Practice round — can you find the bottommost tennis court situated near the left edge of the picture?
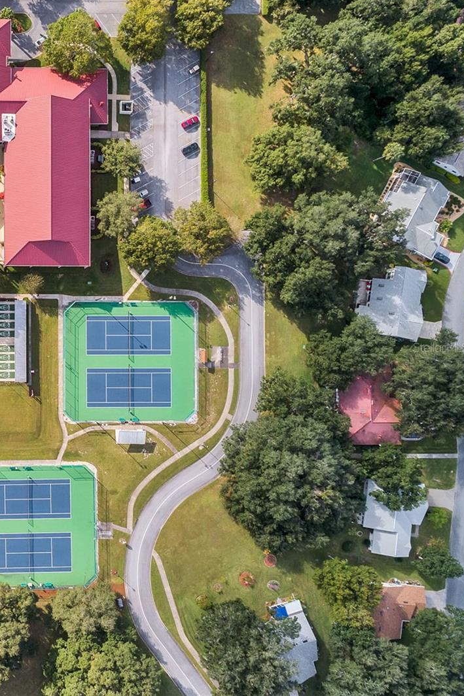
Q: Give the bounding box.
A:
[0,465,98,588]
